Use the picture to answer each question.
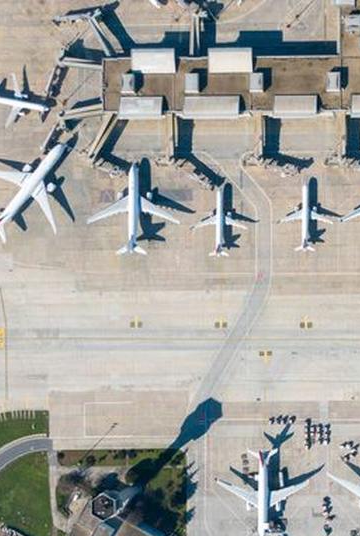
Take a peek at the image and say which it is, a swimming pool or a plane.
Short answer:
plane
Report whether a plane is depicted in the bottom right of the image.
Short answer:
Yes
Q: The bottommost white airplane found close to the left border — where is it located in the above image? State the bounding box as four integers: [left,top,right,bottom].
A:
[0,145,64,241]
